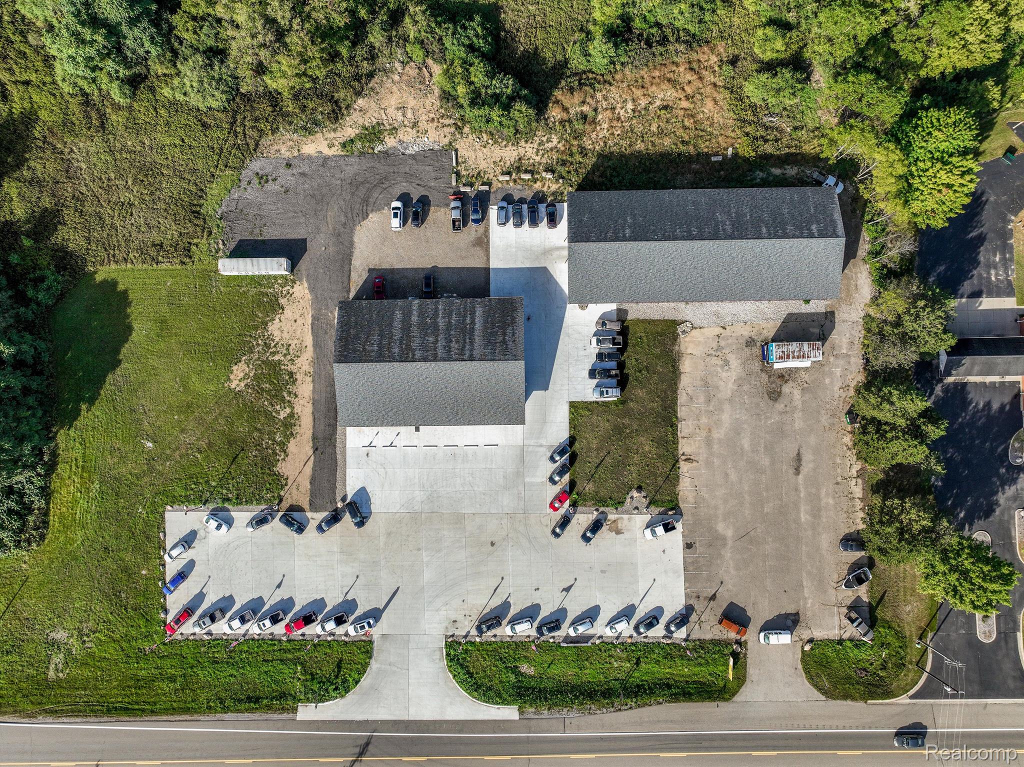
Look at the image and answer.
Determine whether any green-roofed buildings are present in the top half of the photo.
No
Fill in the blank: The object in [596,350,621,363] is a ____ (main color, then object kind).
black vehicle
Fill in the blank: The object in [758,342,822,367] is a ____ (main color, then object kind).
white truck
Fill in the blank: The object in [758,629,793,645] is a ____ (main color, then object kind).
white vehicle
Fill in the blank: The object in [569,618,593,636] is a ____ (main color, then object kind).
white car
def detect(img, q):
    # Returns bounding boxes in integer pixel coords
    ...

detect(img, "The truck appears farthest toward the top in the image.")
[808,170,843,192]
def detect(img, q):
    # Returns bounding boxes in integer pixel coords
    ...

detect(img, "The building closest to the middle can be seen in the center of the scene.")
[333,296,525,427]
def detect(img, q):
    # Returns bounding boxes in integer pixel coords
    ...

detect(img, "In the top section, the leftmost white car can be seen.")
[390,202,403,231]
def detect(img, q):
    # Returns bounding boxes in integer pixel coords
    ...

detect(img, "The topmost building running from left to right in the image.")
[567,186,846,304]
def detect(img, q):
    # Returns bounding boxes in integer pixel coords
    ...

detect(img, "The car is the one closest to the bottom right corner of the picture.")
[892,733,924,748]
